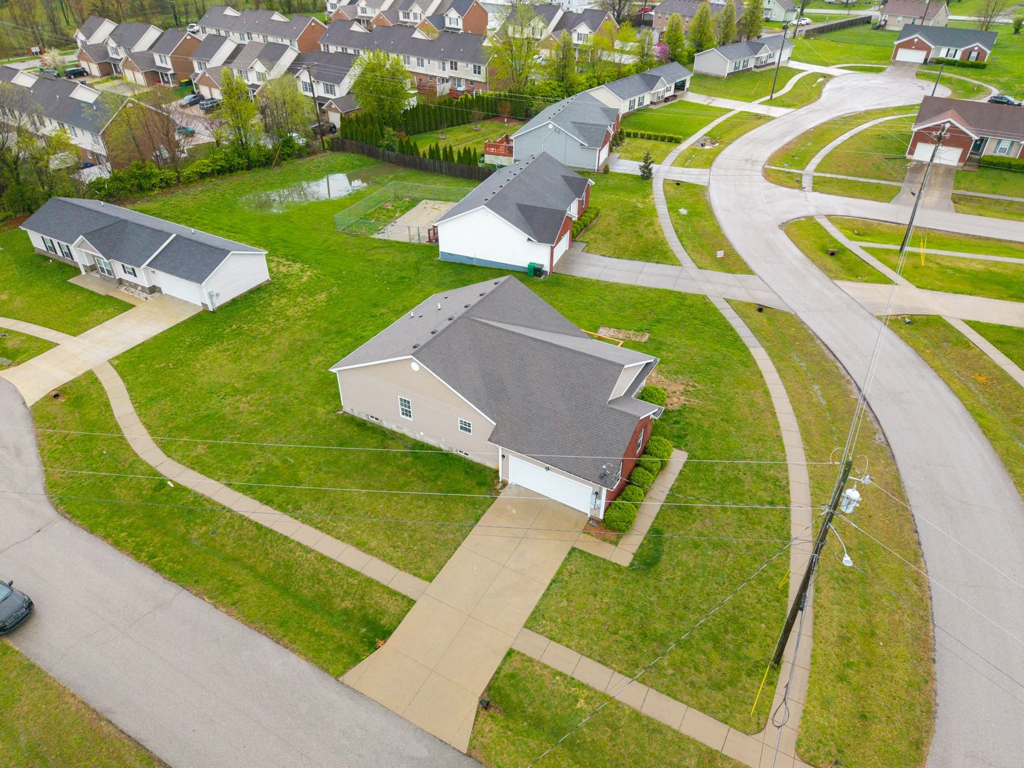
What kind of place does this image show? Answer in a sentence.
It's a residential area.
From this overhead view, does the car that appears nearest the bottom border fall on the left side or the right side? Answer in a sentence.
It is on the left.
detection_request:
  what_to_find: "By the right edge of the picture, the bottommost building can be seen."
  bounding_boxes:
[879,95,1024,170]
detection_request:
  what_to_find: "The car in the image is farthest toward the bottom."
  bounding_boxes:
[0,587,34,639]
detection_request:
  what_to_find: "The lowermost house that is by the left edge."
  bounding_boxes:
[20,198,274,311]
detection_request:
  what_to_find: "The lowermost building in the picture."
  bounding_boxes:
[327,276,669,521]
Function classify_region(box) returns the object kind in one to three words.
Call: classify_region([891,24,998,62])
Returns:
house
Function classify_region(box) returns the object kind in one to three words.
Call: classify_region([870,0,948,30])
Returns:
house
